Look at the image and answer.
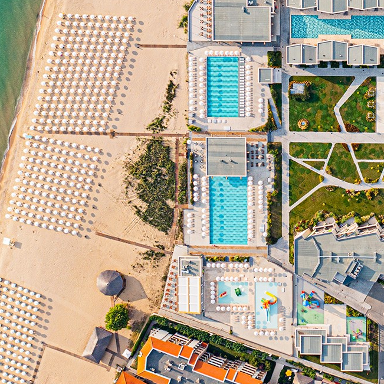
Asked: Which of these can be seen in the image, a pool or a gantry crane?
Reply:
pool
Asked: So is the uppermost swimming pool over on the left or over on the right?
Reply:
right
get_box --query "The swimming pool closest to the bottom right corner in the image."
[255,281,278,330]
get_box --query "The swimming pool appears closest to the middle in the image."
[208,176,248,245]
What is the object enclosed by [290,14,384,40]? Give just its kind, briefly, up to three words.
swimming pool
